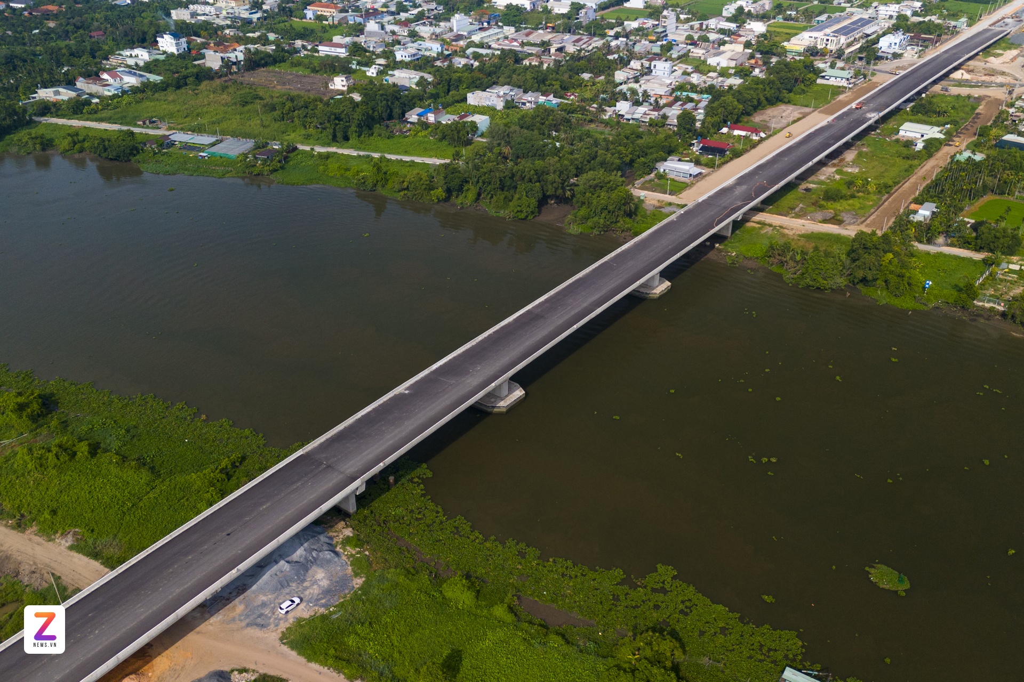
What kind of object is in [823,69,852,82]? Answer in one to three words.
house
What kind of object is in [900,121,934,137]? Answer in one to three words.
building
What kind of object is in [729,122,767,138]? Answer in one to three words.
house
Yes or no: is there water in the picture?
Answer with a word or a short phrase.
Yes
